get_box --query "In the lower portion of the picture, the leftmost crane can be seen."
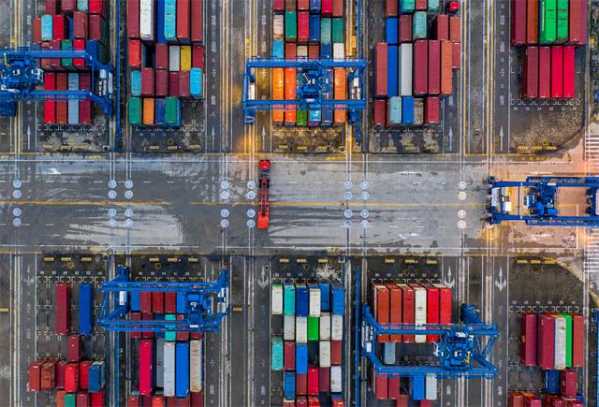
[97,261,231,336]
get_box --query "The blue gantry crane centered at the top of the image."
[243,54,369,129]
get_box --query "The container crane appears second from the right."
[360,298,500,377]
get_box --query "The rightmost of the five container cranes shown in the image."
[488,173,599,230]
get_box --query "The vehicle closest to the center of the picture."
[257,159,270,230]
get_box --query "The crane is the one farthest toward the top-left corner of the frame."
[0,45,115,120]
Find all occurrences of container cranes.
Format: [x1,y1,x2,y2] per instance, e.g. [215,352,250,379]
[360,298,500,377]
[488,173,599,230]
[243,54,369,129]
[97,261,231,336]
[0,45,115,120]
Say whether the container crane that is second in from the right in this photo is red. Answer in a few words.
No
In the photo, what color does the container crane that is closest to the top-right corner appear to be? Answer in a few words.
blue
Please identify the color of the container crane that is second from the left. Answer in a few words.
blue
